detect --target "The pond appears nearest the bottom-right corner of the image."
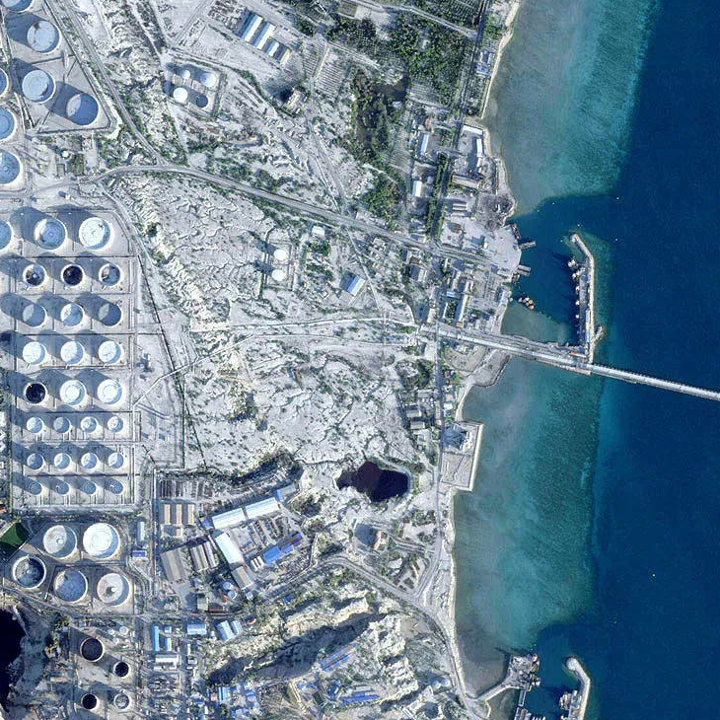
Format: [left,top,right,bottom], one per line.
[336,461,409,503]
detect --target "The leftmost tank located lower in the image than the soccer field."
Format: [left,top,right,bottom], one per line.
[12,556,46,593]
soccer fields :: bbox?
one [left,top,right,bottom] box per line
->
[0,522,30,556]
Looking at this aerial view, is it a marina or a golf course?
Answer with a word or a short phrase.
marina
